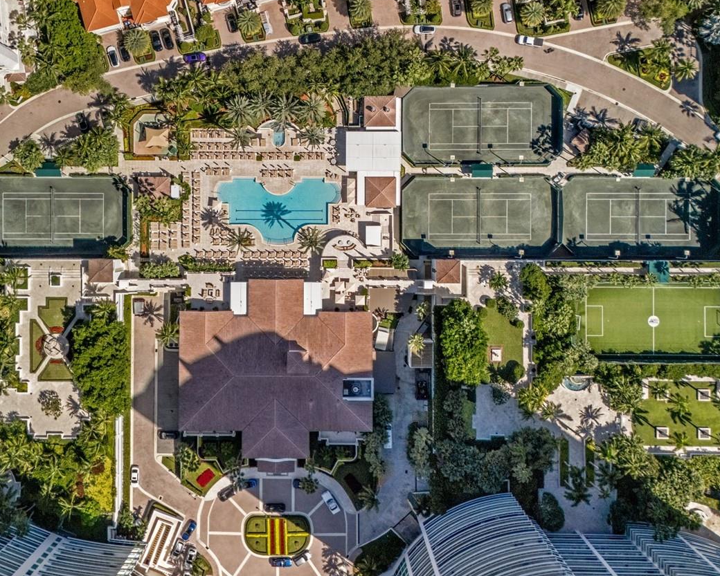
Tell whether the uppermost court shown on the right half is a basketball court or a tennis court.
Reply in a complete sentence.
Looking closely, the uppermost court shown on the right half is a tennis court.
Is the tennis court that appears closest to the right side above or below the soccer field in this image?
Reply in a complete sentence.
As seen from overhead, the tennis court that appears closest to the right side falls above the soccer field in the picture.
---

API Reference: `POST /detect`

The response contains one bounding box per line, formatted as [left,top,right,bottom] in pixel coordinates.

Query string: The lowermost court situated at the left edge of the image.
[0,175,131,259]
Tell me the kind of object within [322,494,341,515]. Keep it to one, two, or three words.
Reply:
car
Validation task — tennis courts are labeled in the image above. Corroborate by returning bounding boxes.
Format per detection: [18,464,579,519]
[562,176,720,259]
[0,175,131,259]
[402,82,568,166]
[401,176,562,259]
